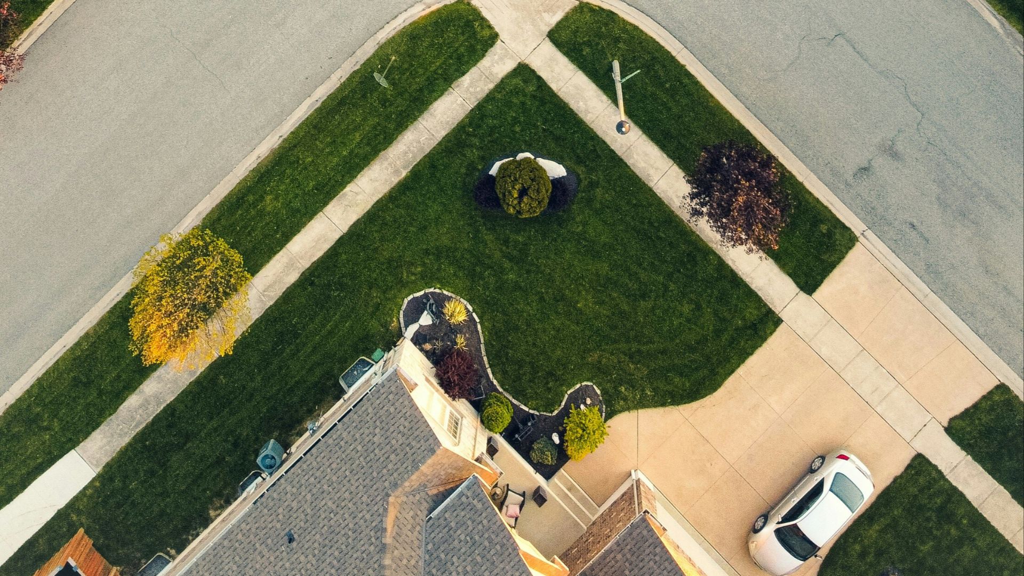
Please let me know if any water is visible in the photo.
No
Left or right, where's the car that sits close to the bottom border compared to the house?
to the right of it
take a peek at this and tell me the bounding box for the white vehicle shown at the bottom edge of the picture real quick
[746,446,876,576]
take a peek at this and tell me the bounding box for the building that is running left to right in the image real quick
[170,337,743,576]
